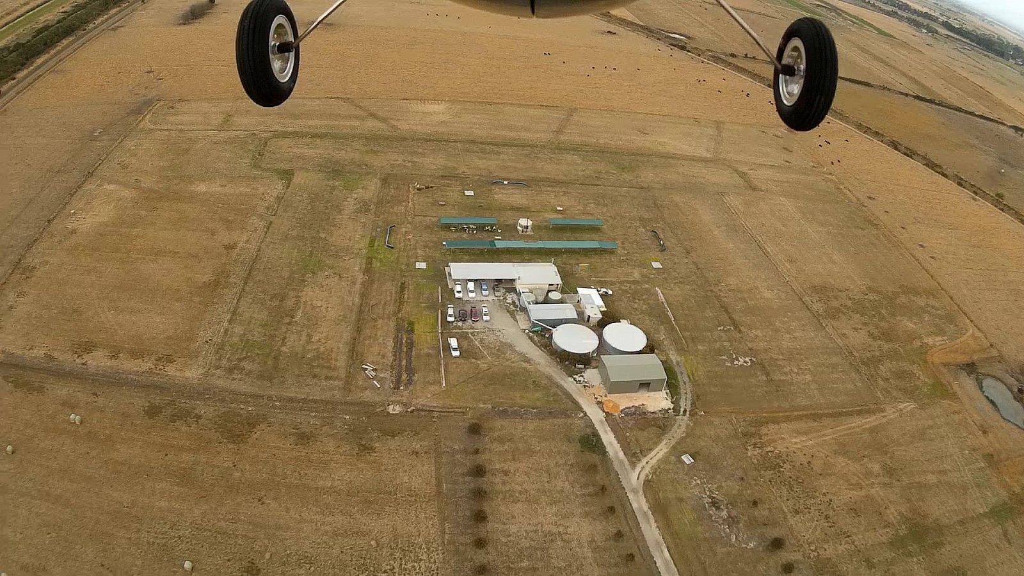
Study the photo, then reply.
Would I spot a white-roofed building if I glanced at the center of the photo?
Yes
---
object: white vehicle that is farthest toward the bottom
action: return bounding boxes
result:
[448,337,461,359]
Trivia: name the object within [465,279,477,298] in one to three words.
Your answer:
vehicle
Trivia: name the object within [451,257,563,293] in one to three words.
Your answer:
building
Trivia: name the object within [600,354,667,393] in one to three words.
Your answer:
shed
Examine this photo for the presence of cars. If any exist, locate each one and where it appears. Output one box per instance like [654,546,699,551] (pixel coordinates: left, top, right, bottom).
[448,337,461,359]
[479,281,490,296]
[454,283,463,299]
[470,305,480,323]
[458,309,468,323]
[445,304,456,323]
[480,305,491,322]
[598,287,611,297]
[465,279,477,298]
